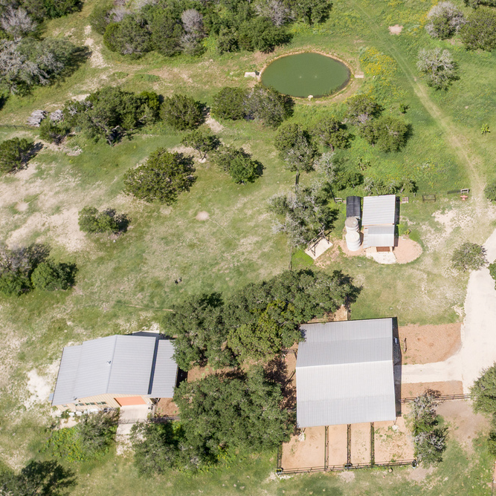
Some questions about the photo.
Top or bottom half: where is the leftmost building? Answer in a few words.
bottom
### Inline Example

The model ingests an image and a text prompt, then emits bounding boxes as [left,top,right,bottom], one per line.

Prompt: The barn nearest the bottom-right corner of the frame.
[298,318,398,432]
